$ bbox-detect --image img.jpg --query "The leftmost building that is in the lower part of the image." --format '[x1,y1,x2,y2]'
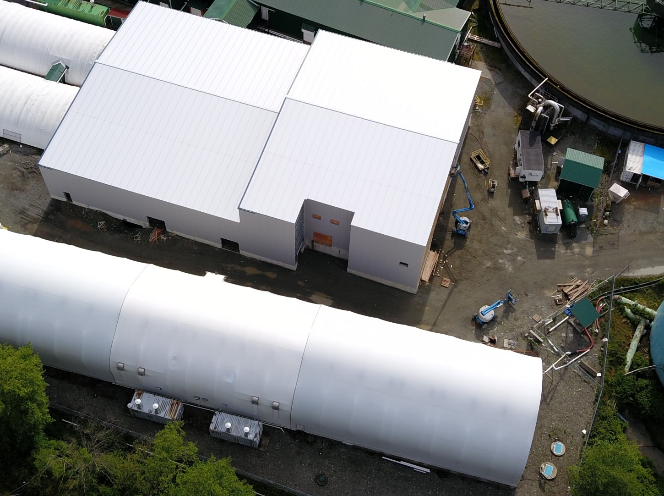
[0,231,542,488]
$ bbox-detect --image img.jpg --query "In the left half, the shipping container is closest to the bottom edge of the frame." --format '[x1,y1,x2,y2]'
[209,412,264,448]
